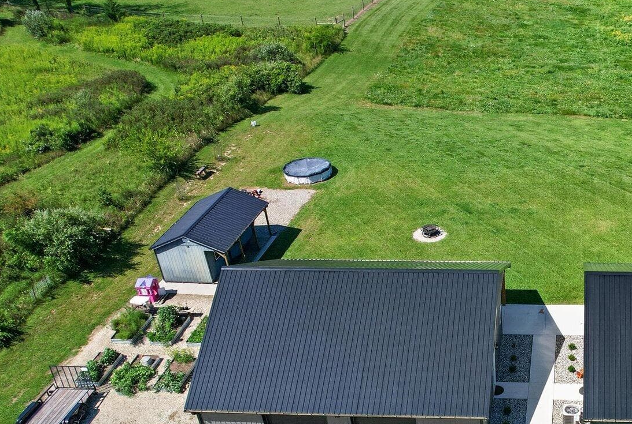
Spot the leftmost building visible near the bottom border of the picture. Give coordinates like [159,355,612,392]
[184,257,512,424]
